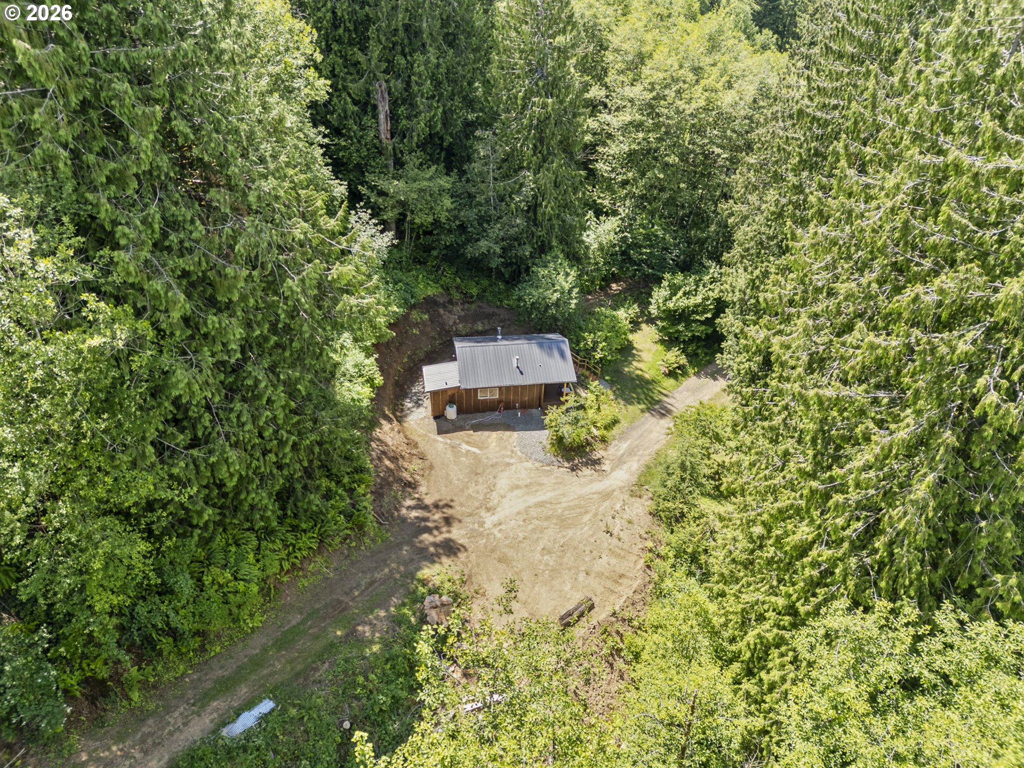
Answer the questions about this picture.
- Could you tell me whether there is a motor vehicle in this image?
No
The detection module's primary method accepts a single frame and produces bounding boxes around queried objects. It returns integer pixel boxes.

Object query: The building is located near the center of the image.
[423,326,575,419]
